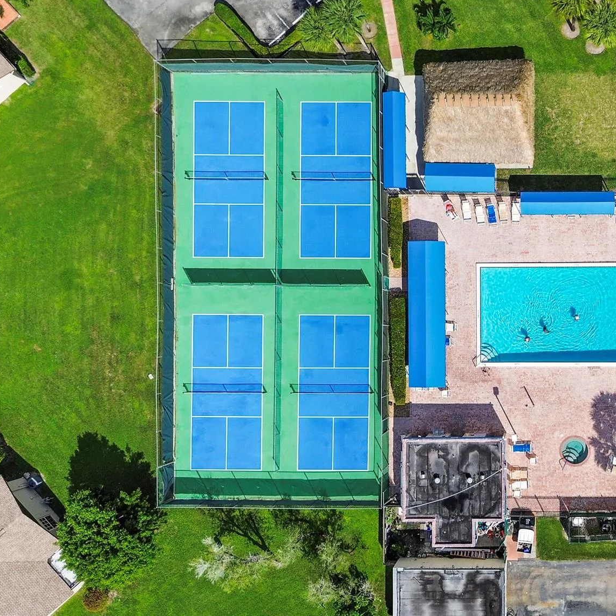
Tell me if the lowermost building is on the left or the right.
right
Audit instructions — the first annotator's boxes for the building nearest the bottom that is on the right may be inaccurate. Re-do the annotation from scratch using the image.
[394,559,507,616]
